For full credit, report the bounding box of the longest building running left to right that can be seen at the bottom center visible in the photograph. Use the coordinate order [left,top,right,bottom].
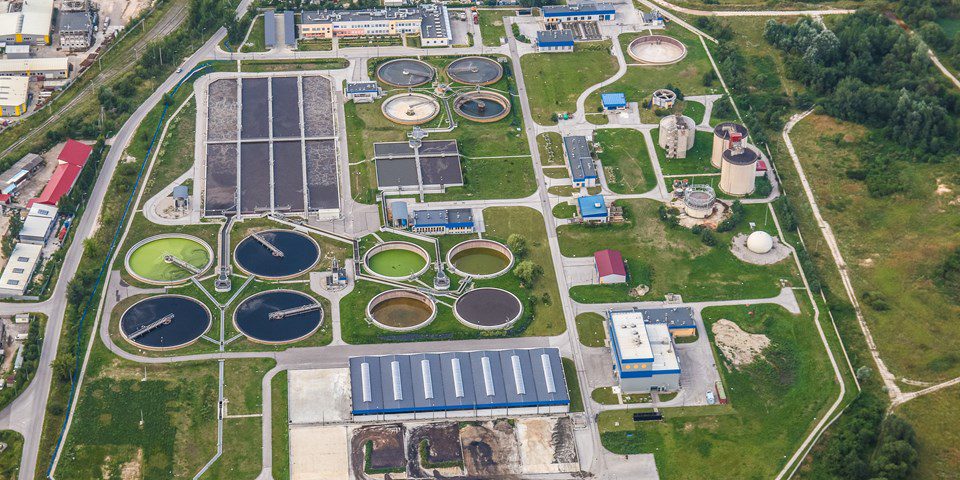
[350,348,570,424]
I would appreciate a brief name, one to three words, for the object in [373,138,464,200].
storage tank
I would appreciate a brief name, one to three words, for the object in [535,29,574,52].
building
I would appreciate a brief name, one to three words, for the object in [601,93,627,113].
shed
